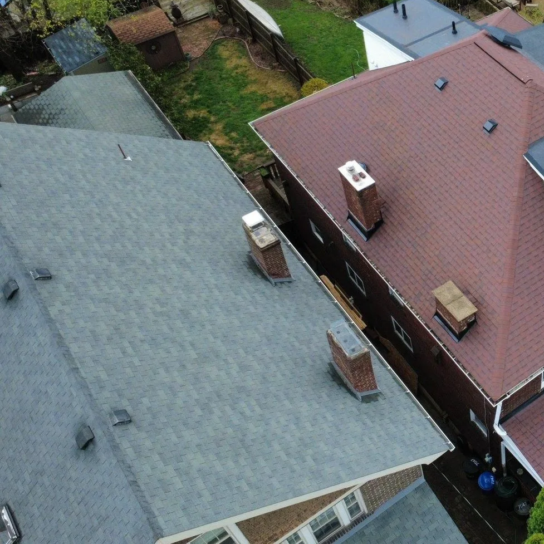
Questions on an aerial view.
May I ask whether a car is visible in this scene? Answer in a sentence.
No, no car can be seen from above.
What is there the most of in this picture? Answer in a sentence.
What you mostly see from above here is buildings.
